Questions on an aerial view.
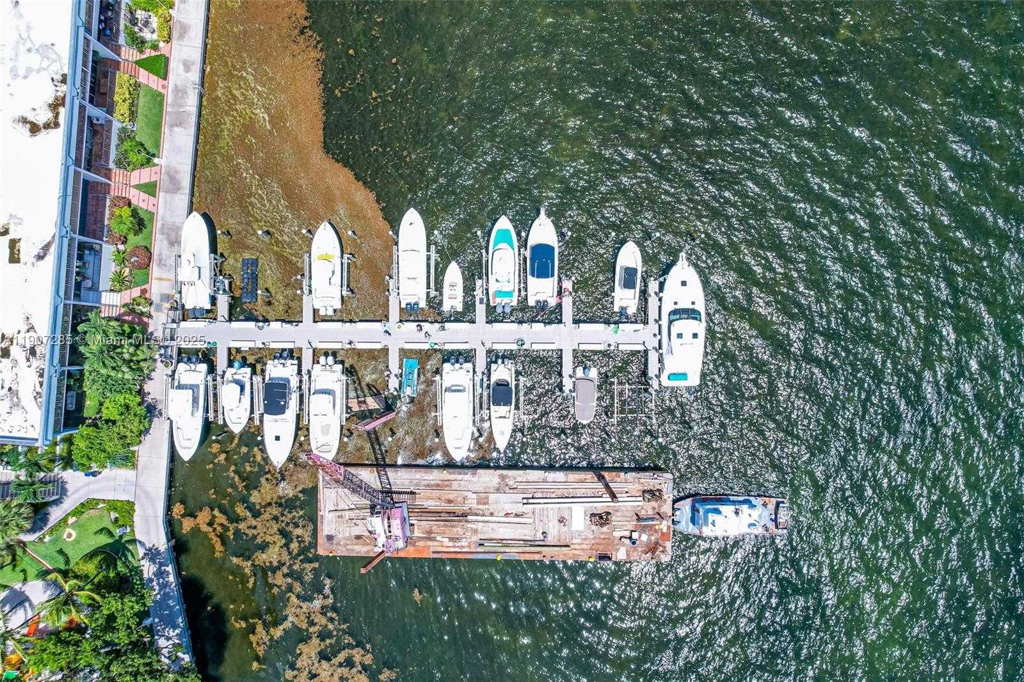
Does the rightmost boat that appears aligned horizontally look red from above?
No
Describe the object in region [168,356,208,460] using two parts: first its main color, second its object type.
white boat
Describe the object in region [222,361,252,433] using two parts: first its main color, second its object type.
white boat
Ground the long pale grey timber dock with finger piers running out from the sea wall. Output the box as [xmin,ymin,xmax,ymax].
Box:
[177,280,659,390]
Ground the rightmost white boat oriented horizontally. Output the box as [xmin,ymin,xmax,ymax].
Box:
[672,493,789,537]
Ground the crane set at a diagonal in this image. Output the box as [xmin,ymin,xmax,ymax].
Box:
[300,448,411,554]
